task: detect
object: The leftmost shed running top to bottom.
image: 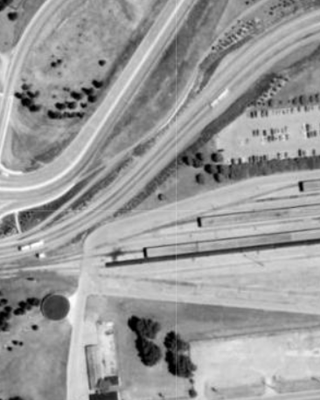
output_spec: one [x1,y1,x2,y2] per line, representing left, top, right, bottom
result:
[86,346,99,391]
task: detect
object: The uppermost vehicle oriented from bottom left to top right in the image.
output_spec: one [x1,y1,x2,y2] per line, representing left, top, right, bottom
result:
[211,90,229,107]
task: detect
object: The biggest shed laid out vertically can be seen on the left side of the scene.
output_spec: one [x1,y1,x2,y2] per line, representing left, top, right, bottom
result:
[97,320,116,379]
